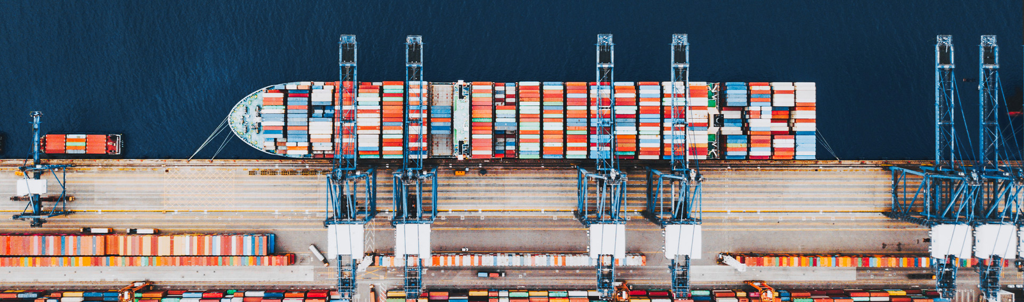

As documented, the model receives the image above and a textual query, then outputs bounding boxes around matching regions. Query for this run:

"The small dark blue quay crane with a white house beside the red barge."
[17,110,78,229]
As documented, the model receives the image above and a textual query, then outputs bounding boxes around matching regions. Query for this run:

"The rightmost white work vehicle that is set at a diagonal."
[716,255,748,277]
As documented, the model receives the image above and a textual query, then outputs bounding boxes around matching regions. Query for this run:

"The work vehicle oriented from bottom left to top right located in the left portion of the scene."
[358,251,377,275]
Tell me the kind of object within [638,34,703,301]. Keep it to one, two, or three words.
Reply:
container crane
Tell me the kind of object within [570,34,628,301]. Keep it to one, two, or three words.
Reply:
container crane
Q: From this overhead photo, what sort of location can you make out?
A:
port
